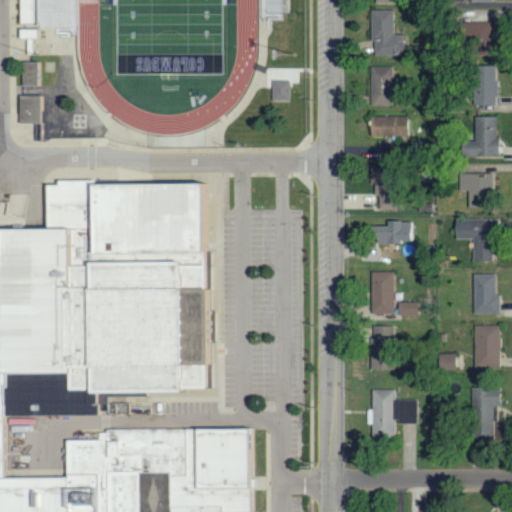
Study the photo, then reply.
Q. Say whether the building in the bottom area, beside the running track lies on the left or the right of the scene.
left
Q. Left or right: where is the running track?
left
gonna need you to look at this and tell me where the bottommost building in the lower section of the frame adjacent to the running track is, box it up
[0,180,259,512]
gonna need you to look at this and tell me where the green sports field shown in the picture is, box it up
[98,0,238,115]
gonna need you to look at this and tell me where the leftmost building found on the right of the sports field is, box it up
[272,80,291,100]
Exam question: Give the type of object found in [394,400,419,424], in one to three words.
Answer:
building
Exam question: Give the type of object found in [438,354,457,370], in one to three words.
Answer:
shed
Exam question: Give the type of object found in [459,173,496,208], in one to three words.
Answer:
house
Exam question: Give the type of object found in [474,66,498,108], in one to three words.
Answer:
house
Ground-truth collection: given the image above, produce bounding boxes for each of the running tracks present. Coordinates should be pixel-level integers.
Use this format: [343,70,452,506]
[80,0,256,134]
